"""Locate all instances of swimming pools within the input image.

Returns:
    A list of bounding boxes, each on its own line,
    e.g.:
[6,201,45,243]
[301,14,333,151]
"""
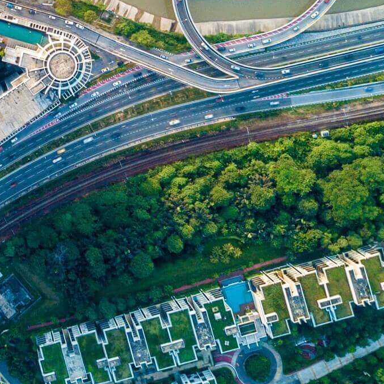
[219,274,252,313]
[0,20,49,45]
